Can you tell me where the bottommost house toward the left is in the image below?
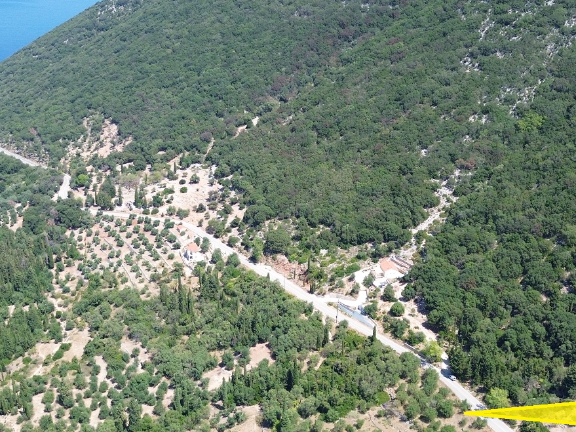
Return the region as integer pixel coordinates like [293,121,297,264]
[184,243,207,264]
